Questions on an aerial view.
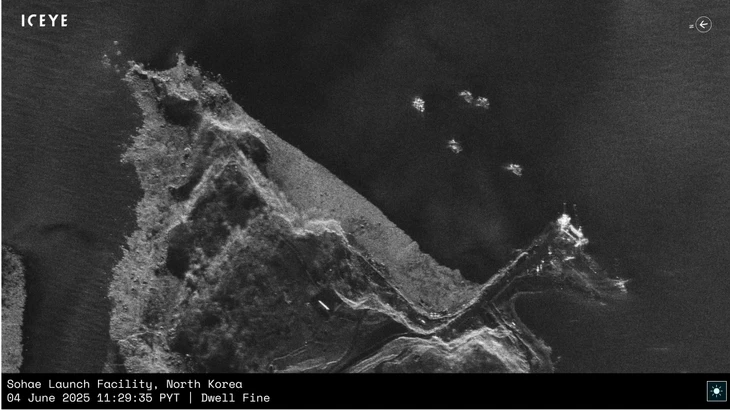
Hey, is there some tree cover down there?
No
